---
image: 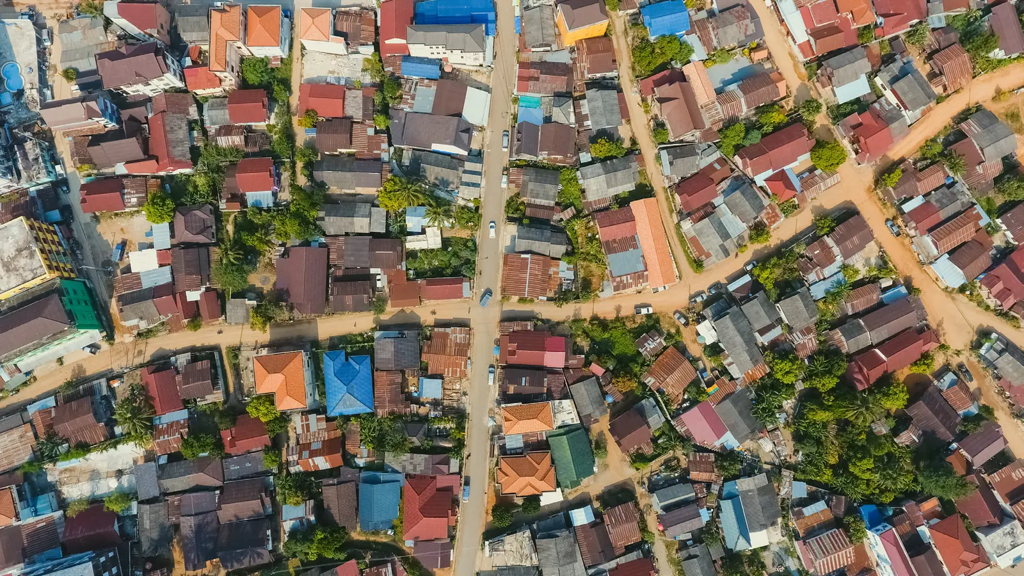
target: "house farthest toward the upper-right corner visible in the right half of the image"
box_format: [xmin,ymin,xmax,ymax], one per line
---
[981,1,1024,60]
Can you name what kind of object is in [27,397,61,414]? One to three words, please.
shed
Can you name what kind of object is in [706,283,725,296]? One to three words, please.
vehicle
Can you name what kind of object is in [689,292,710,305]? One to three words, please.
vehicle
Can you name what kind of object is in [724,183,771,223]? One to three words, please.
house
